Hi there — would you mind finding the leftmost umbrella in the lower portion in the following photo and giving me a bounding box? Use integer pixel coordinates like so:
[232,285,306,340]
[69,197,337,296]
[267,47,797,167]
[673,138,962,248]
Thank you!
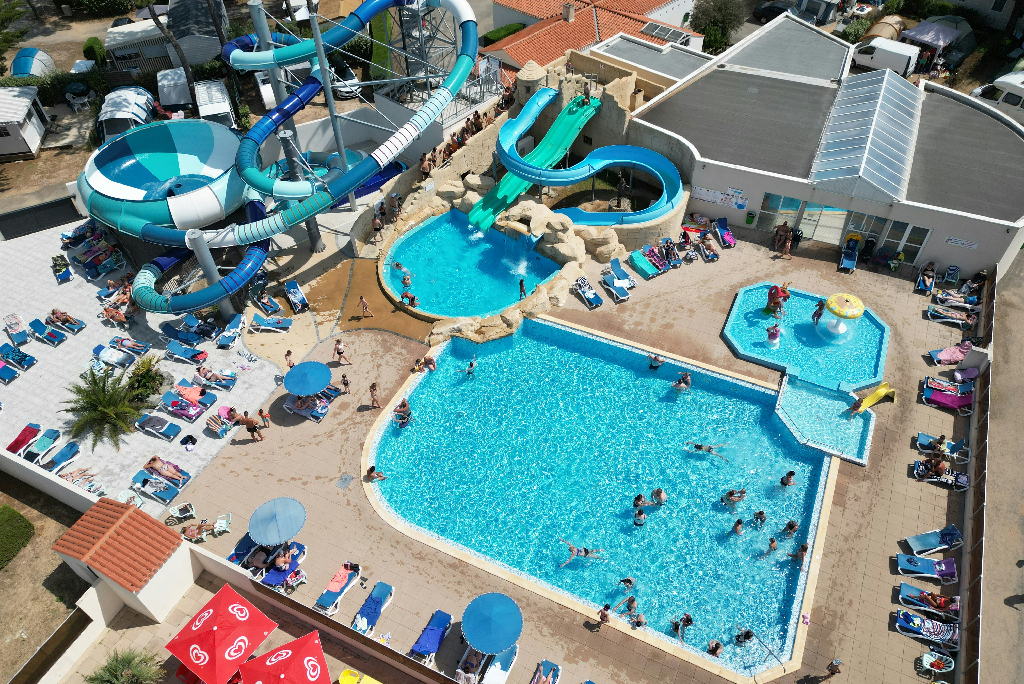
[163,584,277,684]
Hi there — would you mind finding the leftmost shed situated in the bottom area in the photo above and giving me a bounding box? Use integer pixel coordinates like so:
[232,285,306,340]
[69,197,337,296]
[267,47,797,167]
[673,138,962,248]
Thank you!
[50,499,194,624]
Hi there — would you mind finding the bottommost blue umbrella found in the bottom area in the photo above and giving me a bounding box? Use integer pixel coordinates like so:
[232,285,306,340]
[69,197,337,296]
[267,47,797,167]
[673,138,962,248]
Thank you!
[458,588,525,656]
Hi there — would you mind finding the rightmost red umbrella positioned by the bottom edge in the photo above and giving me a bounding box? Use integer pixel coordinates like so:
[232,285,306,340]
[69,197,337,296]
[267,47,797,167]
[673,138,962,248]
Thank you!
[240,630,331,684]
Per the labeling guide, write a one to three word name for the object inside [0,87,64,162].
building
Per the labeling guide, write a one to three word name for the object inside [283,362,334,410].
umbrella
